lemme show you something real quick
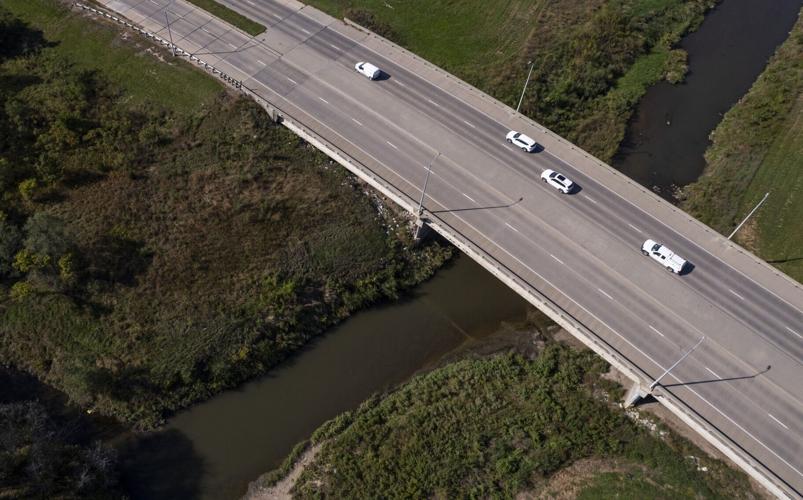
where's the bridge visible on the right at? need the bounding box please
[235,16,803,500]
